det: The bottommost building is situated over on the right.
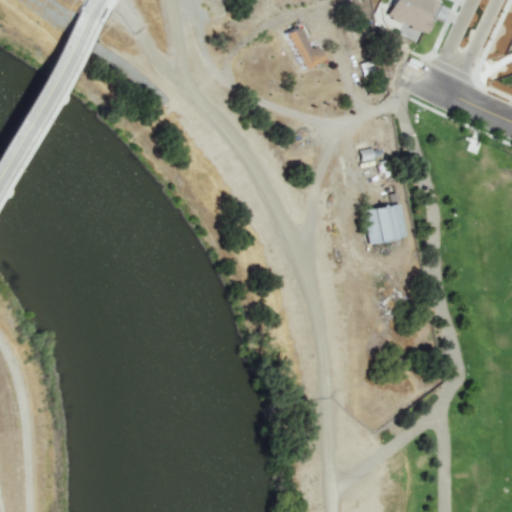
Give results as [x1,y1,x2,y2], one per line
[369,204,408,244]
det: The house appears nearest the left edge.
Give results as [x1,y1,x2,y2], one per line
[288,27,327,69]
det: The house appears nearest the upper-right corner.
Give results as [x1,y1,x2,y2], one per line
[389,0,443,42]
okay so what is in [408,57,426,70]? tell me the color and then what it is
white vehicle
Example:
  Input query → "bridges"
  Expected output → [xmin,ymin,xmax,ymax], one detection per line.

[0,0,117,212]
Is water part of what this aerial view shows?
Yes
